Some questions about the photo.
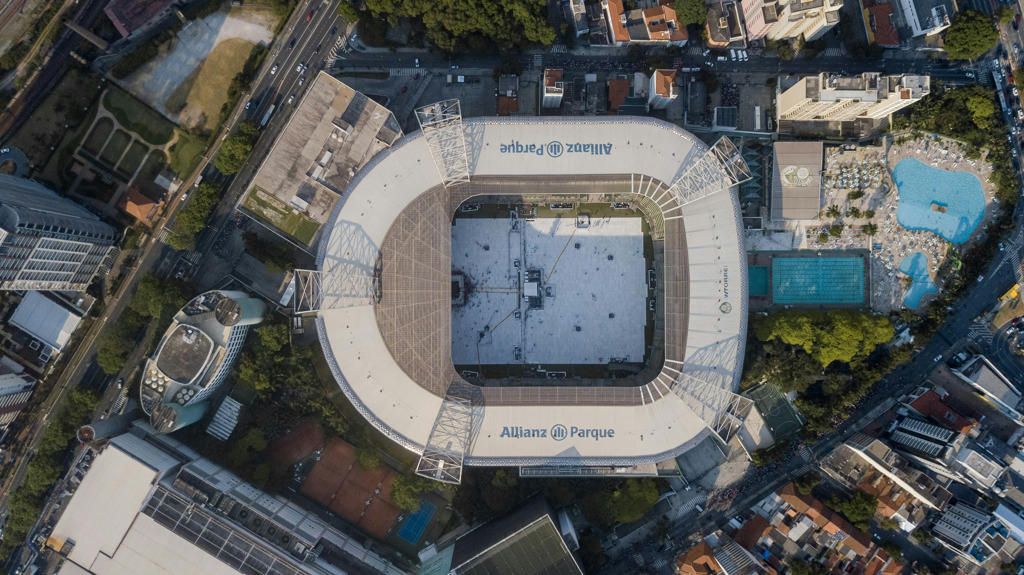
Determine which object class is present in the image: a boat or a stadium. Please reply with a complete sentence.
The one in the frame is a stadium.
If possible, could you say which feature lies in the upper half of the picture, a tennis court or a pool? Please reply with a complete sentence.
The one visible in the upper half of the picture is a pool.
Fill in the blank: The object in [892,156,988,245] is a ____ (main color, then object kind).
blue swimming pool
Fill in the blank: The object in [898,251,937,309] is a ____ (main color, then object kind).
blue swimming pool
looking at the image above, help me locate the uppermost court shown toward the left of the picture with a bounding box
[269,420,329,465]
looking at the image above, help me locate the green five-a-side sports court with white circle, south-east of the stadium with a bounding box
[751,386,804,445]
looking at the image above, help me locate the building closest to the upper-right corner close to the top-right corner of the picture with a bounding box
[899,0,958,40]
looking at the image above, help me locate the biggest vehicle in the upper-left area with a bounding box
[259,103,276,125]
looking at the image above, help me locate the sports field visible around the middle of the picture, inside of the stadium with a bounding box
[452,204,654,378]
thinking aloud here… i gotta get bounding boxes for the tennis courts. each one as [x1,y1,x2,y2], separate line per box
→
[269,420,329,465]
[359,473,401,538]
[392,495,447,555]
[331,460,386,524]
[301,437,355,504]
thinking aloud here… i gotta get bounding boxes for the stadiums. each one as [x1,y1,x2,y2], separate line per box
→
[296,100,753,484]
